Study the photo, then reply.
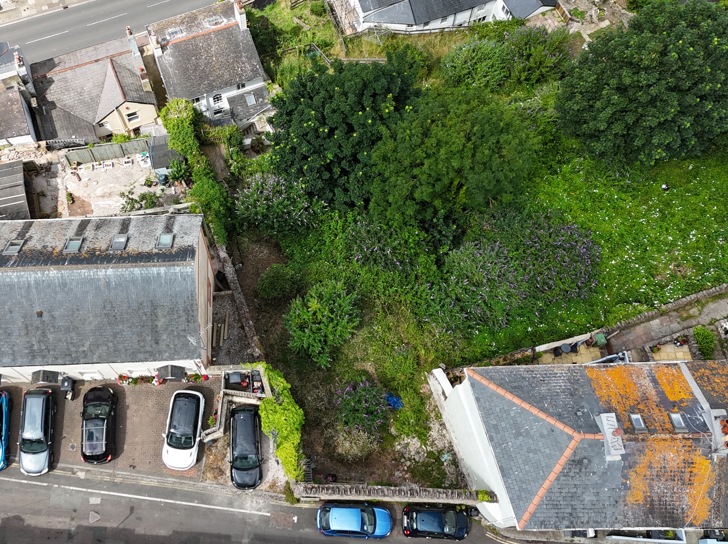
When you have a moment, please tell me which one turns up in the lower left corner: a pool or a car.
car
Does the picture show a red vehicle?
No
